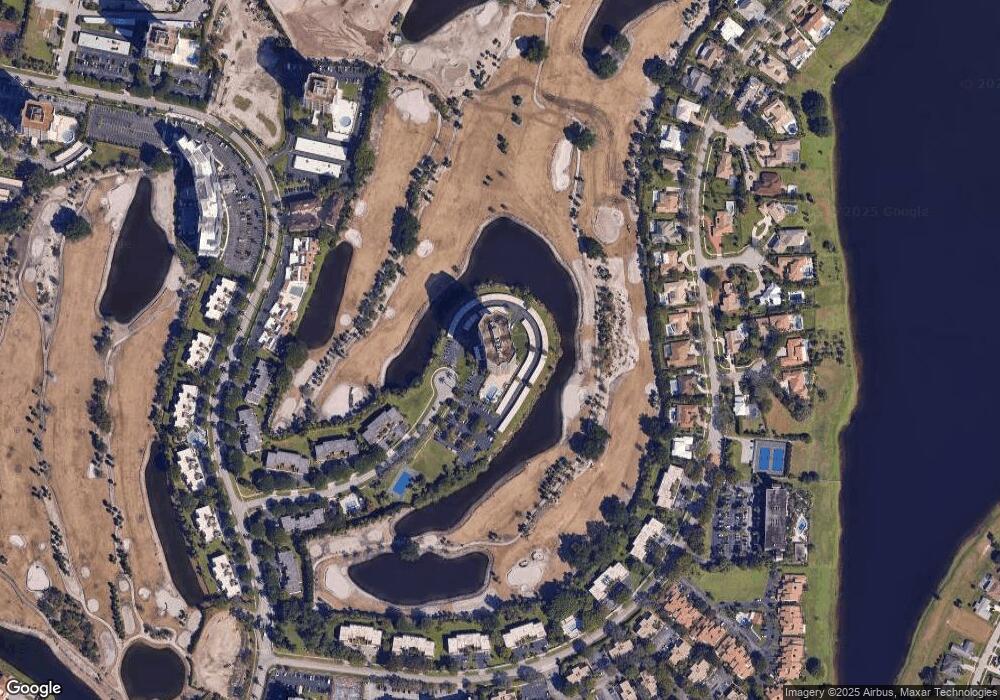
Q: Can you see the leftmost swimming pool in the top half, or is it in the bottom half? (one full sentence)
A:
The top half of the photo is where the leftmost swimming pool is.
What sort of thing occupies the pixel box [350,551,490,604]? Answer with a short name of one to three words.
pond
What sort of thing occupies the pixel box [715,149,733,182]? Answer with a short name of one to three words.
house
